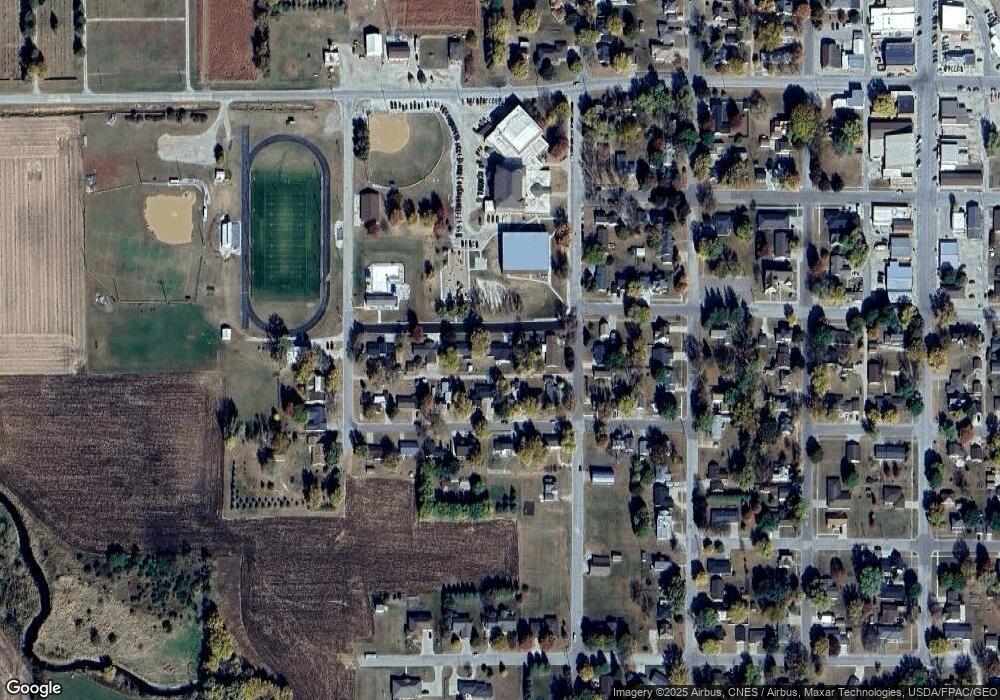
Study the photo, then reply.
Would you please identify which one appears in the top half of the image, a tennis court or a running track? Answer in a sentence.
The one visible in the top half of the image is a running track.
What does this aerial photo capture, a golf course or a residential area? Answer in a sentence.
It's a residential area.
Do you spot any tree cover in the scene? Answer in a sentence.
Yes, there is tree cover in the image.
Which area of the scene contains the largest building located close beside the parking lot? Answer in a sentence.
The largest building located close beside the parking lot sits in the top section of the image.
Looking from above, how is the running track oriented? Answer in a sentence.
In this picture, the running track is oriented up and down.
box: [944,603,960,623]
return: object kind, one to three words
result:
house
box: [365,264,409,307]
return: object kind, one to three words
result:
building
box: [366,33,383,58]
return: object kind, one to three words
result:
barn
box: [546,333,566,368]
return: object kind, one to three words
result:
house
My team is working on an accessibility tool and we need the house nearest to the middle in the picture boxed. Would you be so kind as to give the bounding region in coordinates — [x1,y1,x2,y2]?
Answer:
[490,342,513,364]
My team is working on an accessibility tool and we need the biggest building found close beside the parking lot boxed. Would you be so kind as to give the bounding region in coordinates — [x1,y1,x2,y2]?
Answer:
[485,105,551,214]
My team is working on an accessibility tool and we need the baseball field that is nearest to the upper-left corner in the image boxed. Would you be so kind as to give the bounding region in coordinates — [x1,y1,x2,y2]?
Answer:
[145,191,195,244]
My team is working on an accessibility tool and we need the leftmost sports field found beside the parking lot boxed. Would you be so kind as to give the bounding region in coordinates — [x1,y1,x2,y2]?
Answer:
[252,142,322,328]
